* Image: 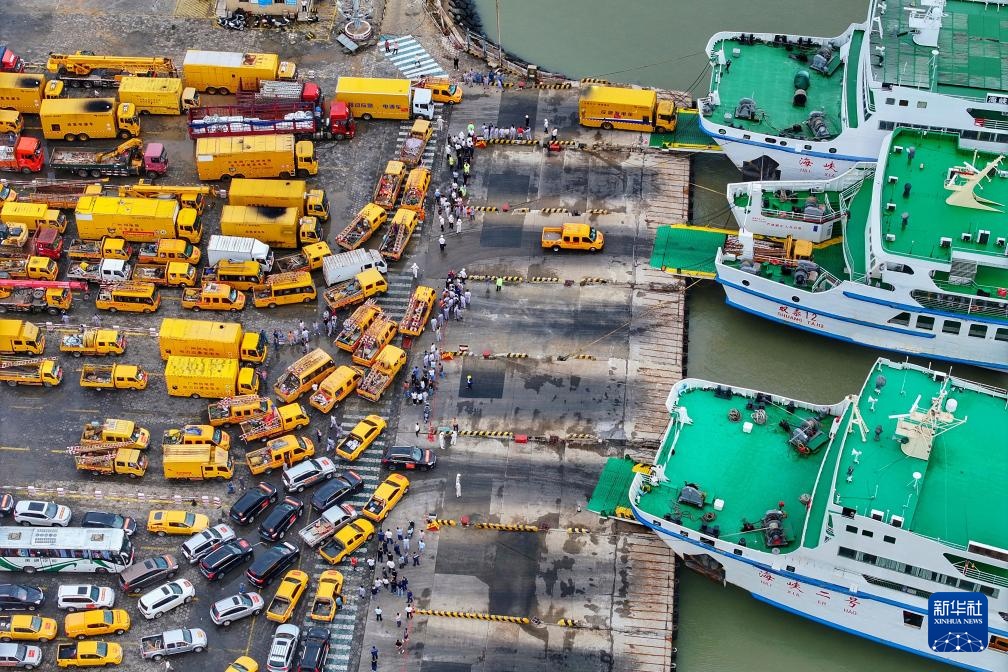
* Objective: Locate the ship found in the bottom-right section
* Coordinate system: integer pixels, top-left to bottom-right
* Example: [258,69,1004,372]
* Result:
[588,355,1008,672]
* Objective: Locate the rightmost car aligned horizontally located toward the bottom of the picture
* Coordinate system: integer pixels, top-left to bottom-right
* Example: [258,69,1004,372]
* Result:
[382,445,439,474]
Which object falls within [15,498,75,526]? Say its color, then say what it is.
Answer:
white car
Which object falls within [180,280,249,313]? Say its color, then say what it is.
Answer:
orange van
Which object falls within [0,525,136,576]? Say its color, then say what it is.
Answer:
white bus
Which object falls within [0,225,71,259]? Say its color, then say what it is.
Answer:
red truck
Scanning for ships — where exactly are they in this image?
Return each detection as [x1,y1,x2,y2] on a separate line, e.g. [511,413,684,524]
[588,355,1008,672]
[651,0,1008,184]
[650,127,1008,385]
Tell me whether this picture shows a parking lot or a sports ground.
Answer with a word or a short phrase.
parking lot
